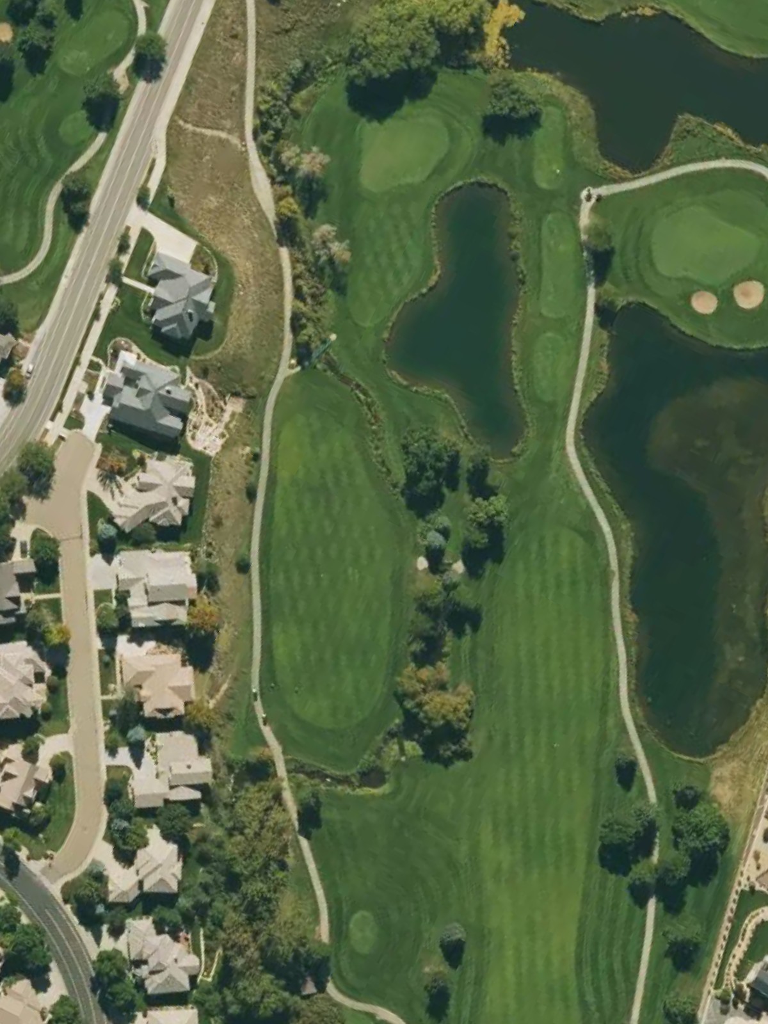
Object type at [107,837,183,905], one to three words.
house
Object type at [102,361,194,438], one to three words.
house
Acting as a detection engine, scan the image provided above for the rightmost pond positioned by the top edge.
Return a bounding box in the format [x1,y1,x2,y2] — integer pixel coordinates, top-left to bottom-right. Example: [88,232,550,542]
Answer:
[507,0,768,174]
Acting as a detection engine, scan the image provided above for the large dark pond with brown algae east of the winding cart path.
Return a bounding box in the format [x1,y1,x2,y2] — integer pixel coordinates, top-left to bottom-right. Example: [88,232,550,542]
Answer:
[583,302,768,756]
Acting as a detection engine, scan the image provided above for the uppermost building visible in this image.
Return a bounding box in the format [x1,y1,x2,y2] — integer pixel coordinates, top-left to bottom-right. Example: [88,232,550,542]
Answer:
[148,250,215,341]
